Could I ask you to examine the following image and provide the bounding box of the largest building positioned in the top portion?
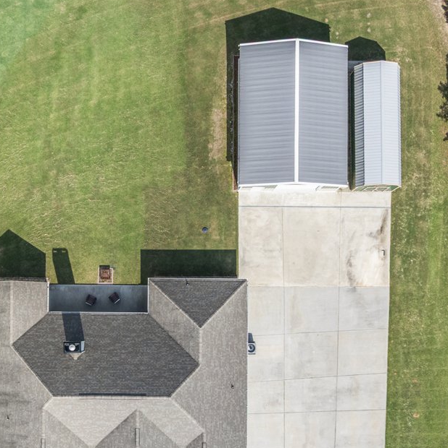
[236,36,348,190]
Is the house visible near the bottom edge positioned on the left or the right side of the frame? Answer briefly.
left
